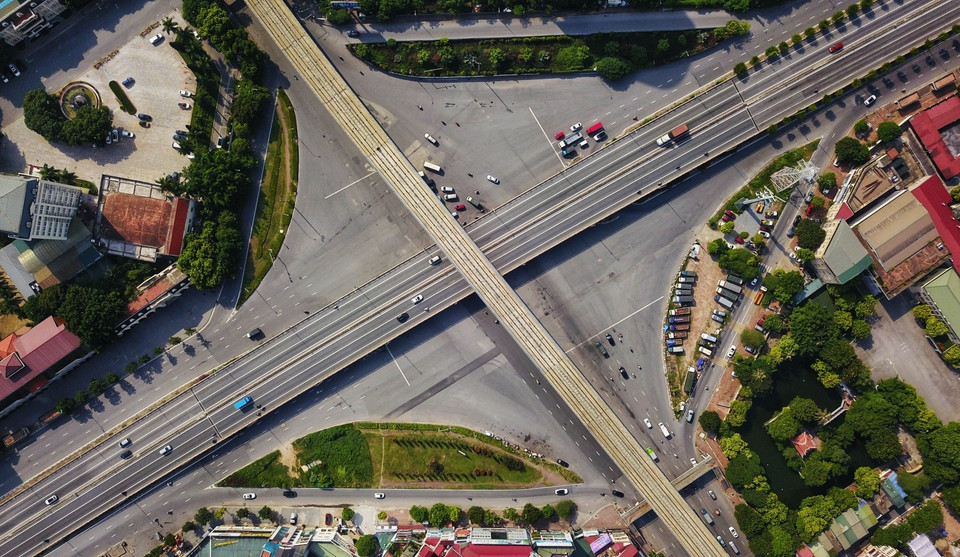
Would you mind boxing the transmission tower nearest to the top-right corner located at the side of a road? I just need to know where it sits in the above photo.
[772,161,819,191]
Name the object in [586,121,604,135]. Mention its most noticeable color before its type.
red vehicle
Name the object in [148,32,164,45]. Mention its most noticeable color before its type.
white vehicle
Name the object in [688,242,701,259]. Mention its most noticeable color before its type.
white vehicle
